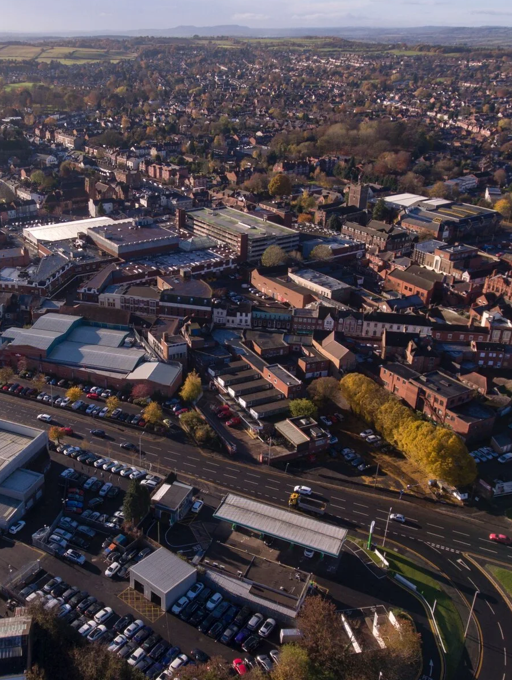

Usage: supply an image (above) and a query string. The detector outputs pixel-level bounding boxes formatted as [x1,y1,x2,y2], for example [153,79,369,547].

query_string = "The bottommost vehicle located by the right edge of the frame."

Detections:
[487,531,512,546]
